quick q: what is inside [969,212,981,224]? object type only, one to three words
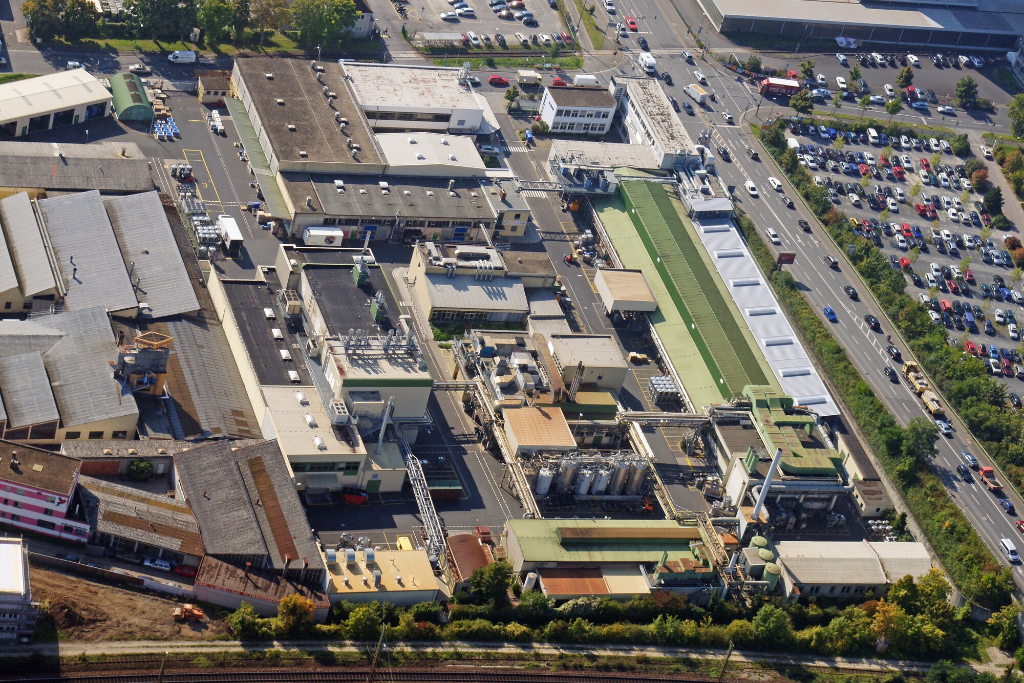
vehicle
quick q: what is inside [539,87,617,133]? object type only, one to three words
building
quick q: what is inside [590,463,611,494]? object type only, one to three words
silo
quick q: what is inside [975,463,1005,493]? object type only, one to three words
truck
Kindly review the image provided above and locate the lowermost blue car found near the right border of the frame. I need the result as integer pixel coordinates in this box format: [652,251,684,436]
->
[999,500,1015,514]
